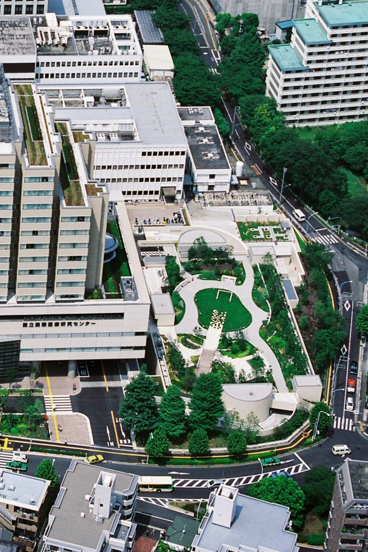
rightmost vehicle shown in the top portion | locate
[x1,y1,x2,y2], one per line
[290,208,308,221]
